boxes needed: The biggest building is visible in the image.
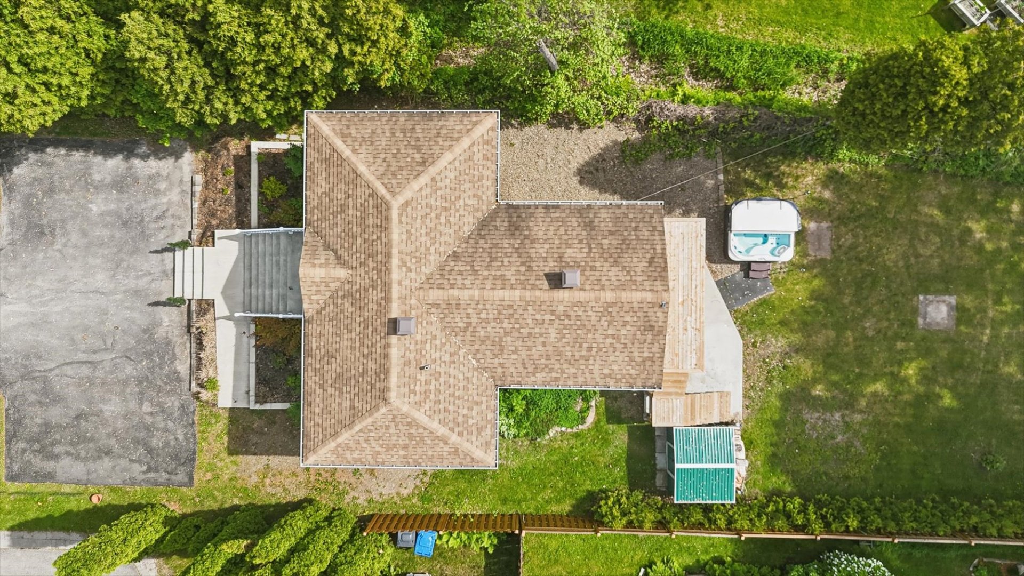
[297,110,670,469]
